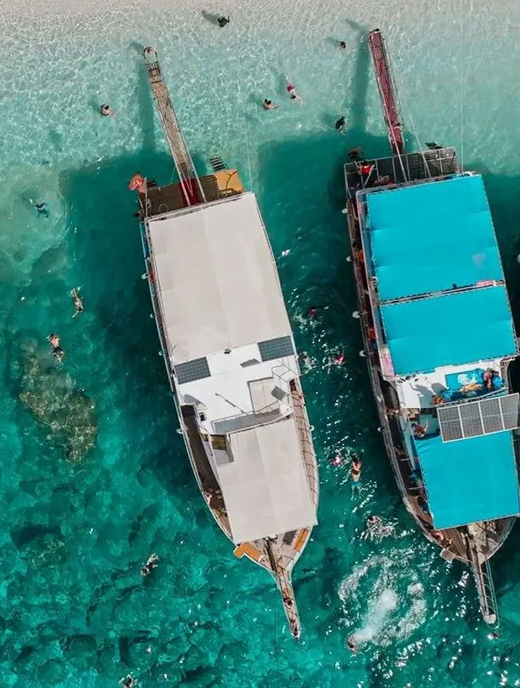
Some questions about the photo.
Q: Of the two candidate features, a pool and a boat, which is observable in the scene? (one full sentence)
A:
Looking from above, you can make out a boat.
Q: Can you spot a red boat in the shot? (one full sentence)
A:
No, there's no red boat here.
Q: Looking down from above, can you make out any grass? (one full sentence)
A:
No, grass can't be seen anywhere here.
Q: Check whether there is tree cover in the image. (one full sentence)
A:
No, the scene doesn't show any tree cover.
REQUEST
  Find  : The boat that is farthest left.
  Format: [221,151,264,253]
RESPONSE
[134,48,319,640]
